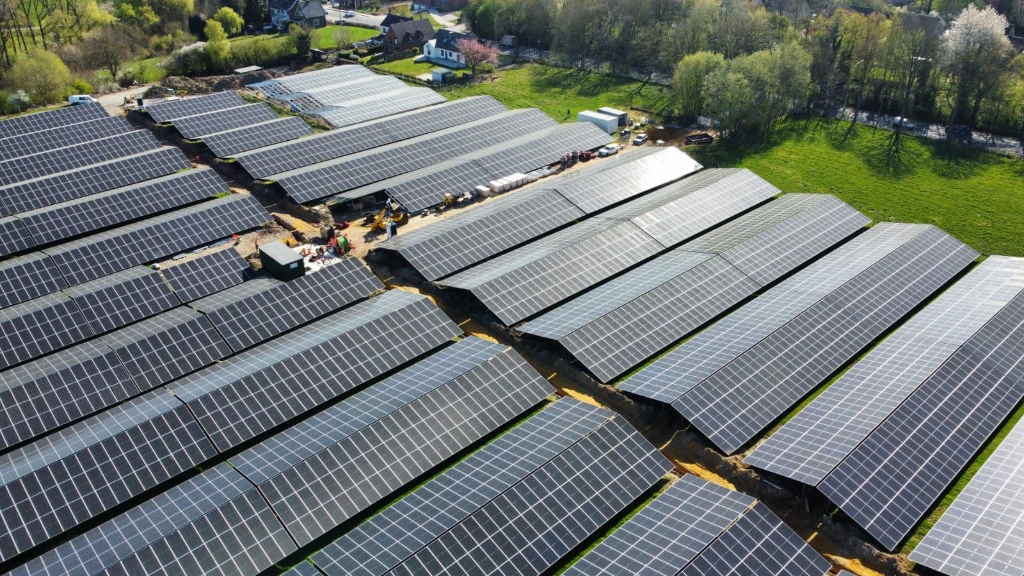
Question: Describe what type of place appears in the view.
solar farm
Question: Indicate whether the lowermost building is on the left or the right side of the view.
left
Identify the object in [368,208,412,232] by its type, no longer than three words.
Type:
work vehicle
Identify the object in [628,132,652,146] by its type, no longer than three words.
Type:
car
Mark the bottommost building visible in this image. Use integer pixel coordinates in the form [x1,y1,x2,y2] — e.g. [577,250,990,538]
[256,239,306,280]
